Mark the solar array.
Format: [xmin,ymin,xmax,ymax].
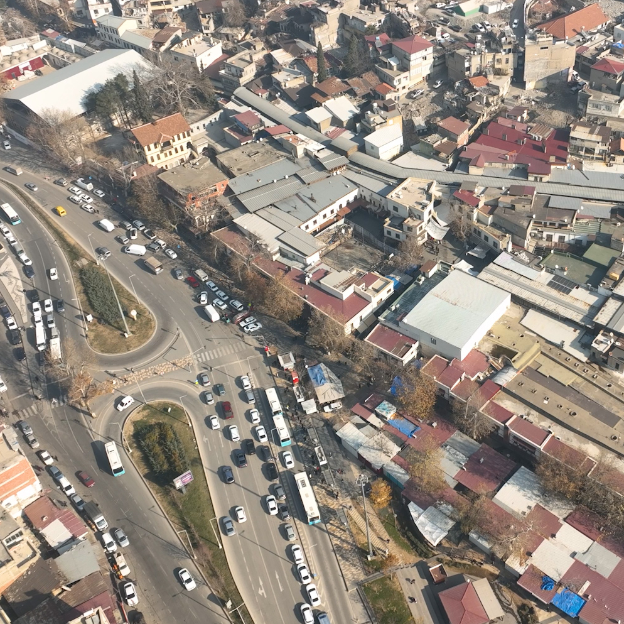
[547,277,576,297]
